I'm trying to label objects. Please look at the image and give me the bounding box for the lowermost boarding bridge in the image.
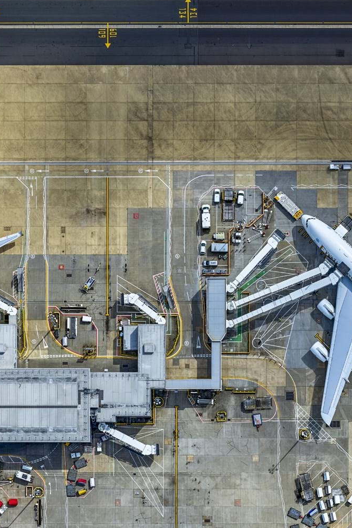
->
[97,423,158,455]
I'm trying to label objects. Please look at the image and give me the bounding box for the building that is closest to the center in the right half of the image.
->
[206,279,226,342]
